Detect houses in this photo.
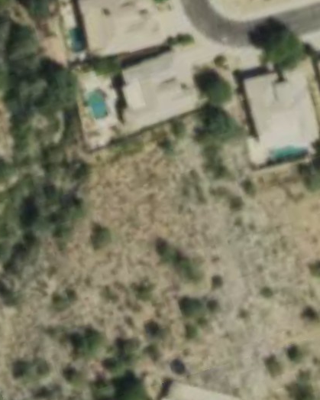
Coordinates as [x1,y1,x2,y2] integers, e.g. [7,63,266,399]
[80,0,171,57]
[117,54,205,129]
[246,67,320,147]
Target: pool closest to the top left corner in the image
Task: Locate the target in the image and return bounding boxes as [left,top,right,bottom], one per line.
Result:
[69,21,85,55]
